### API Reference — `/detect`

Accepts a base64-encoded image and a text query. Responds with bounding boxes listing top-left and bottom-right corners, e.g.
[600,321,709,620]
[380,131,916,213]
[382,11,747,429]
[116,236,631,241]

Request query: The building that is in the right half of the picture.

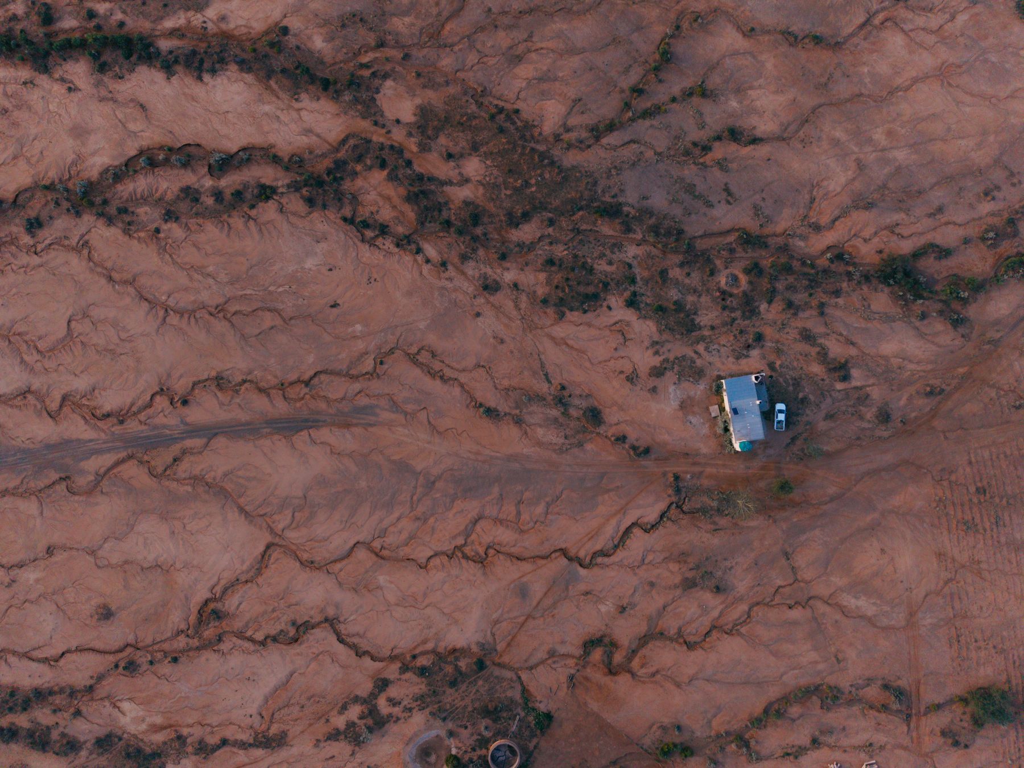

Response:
[718,373,770,451]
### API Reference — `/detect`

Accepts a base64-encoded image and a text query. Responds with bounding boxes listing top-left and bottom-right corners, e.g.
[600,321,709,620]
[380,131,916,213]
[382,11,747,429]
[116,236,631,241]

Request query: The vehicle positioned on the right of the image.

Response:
[773,403,787,432]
